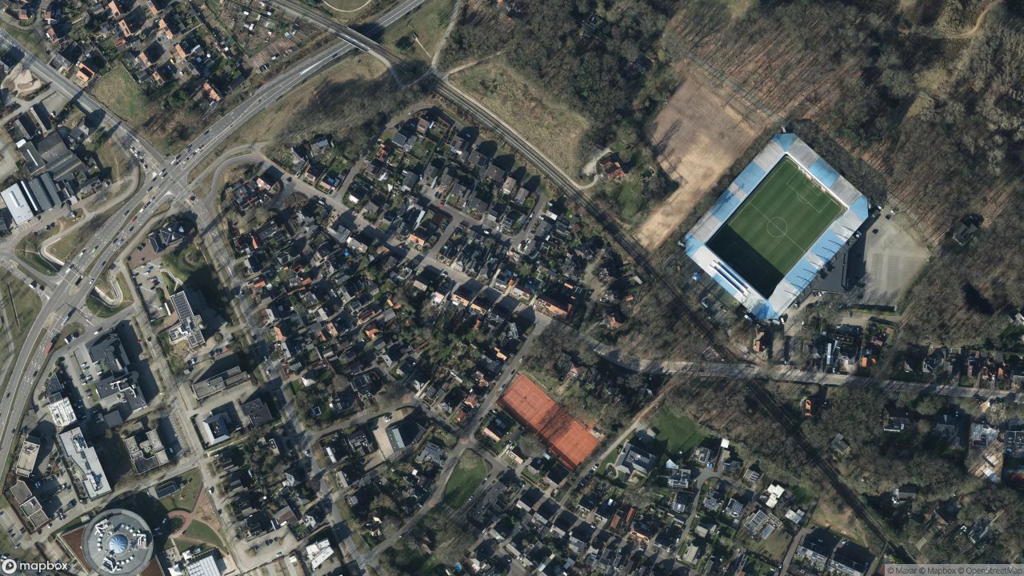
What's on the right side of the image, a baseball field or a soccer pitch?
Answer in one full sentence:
The one visible on the right side of the image is a soccer pitch.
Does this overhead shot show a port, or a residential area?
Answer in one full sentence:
The area seen from above is a residential area.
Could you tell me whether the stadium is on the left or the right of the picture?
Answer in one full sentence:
You can find the stadium on the right side of the picture.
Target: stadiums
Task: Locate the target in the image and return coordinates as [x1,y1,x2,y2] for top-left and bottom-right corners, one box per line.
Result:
[685,134,868,319]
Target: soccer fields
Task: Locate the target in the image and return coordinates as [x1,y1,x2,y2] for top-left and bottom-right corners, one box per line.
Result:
[708,154,847,298]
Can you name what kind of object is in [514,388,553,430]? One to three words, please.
tennis court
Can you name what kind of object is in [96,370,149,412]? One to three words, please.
building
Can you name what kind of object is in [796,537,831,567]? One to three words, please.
house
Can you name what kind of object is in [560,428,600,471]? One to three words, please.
tennis court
